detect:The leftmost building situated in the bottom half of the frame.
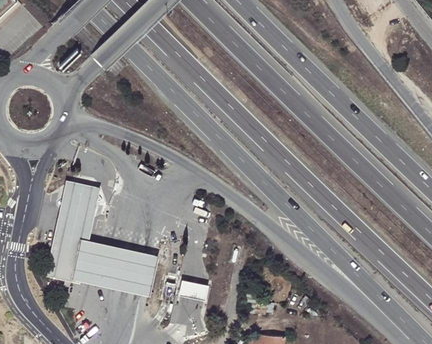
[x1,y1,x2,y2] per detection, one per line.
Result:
[47,181,100,282]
